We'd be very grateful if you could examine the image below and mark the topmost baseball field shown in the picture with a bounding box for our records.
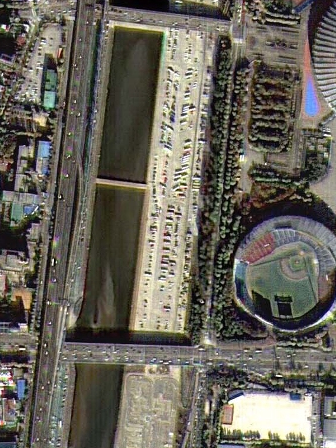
[245,235,325,323]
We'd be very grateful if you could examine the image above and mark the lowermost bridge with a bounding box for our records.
[38,342,213,367]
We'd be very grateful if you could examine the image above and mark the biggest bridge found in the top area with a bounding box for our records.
[20,5,240,34]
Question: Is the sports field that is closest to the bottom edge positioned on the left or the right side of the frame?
right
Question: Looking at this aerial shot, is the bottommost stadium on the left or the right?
right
